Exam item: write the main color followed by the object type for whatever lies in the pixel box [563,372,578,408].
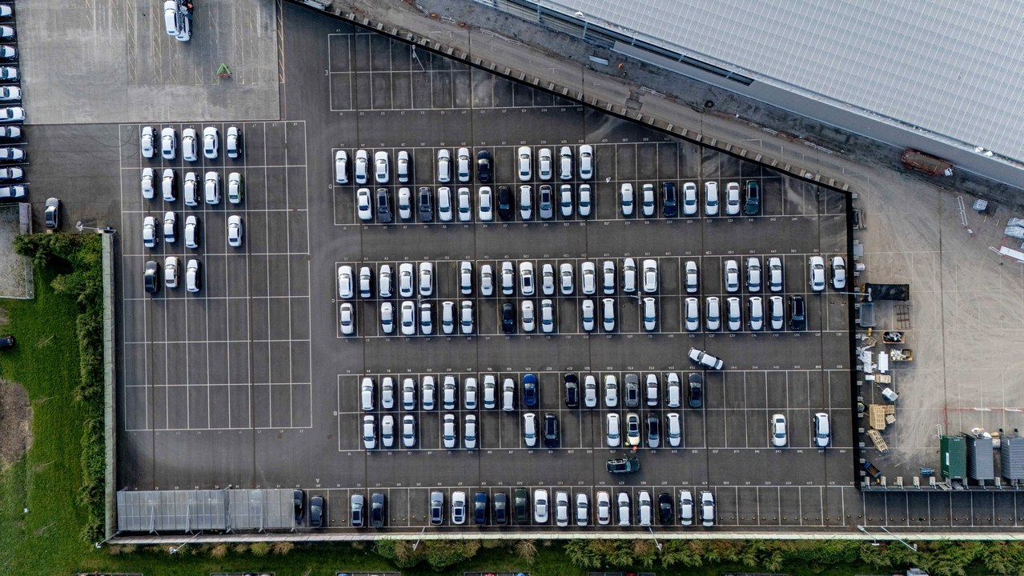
black car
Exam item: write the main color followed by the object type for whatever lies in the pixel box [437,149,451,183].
white car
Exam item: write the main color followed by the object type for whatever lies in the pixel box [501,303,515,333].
black car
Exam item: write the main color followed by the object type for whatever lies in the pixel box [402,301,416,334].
white car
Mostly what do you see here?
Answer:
paved ground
